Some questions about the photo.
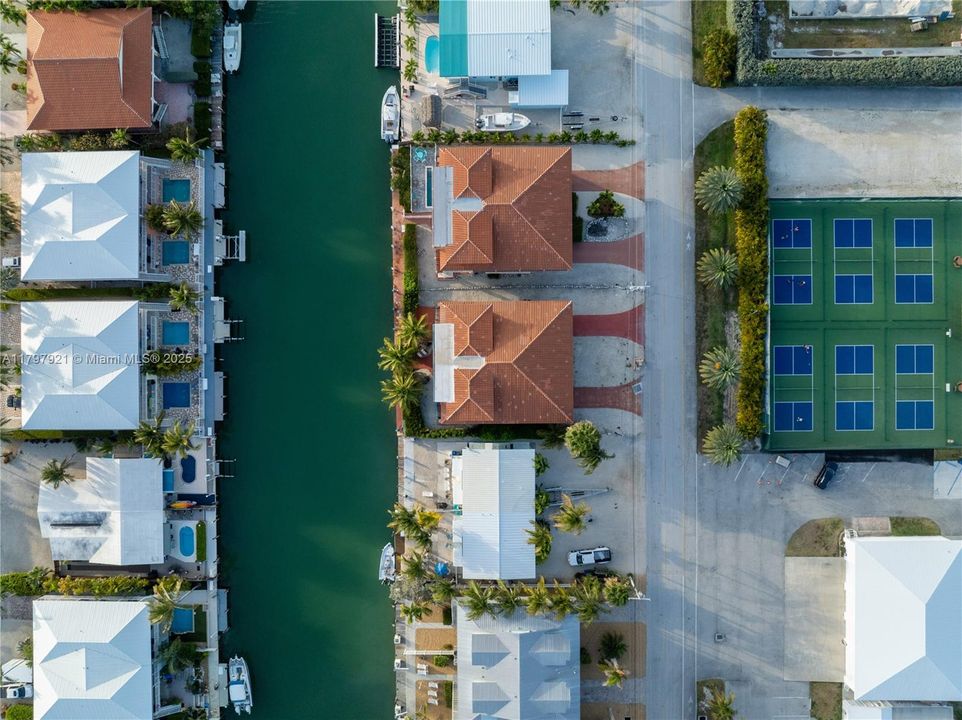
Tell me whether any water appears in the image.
Yes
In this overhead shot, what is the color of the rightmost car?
black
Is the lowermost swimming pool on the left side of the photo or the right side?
left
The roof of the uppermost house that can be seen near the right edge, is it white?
Yes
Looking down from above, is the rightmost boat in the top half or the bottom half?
top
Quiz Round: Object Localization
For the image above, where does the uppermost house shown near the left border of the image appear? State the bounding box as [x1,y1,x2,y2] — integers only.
[26,7,173,131]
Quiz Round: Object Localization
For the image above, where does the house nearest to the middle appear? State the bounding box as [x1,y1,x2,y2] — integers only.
[433,301,573,423]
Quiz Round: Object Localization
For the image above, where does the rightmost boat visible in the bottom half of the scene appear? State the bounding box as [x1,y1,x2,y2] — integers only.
[378,541,395,587]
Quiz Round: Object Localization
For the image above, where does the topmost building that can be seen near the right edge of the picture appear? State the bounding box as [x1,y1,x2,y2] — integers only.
[843,535,962,700]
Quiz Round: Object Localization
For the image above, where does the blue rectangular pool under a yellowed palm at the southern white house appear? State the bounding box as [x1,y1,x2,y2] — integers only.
[169,607,195,635]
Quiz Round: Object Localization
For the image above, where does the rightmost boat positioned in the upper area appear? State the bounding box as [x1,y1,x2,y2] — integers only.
[473,103,530,127]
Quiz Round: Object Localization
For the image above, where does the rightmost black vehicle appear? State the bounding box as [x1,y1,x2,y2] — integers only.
[817,460,840,491]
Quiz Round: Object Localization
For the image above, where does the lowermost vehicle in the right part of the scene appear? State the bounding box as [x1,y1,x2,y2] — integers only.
[568,548,612,569]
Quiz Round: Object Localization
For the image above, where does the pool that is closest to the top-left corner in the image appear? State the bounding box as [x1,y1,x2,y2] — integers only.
[161,178,192,203]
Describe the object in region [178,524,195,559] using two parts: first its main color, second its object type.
blue swimming pool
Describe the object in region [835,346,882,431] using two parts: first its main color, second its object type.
blue sports court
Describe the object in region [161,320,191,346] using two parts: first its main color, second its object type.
blue swimming pool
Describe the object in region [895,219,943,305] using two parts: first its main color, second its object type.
blue sports court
